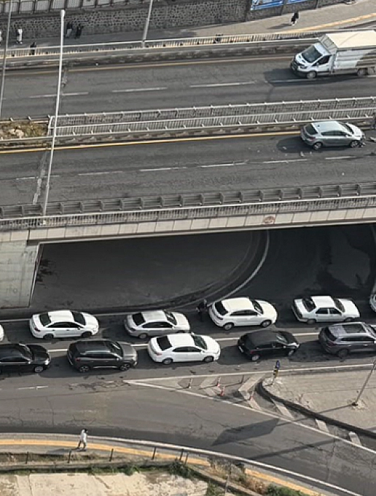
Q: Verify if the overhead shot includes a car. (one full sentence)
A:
Yes, there's a car here.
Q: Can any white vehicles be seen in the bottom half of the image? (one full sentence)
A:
Yes, looking in the bottom half of the image, one can make out a white vehicle.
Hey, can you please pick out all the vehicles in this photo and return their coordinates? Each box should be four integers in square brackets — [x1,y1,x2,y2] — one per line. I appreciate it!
[314,317,376,353]
[208,295,278,331]
[232,325,298,359]
[297,121,365,152]
[0,345,51,378]
[290,293,359,324]
[145,331,222,366]
[120,304,192,337]
[65,337,138,374]
[295,26,376,80]
[366,288,376,314]
[28,310,101,343]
